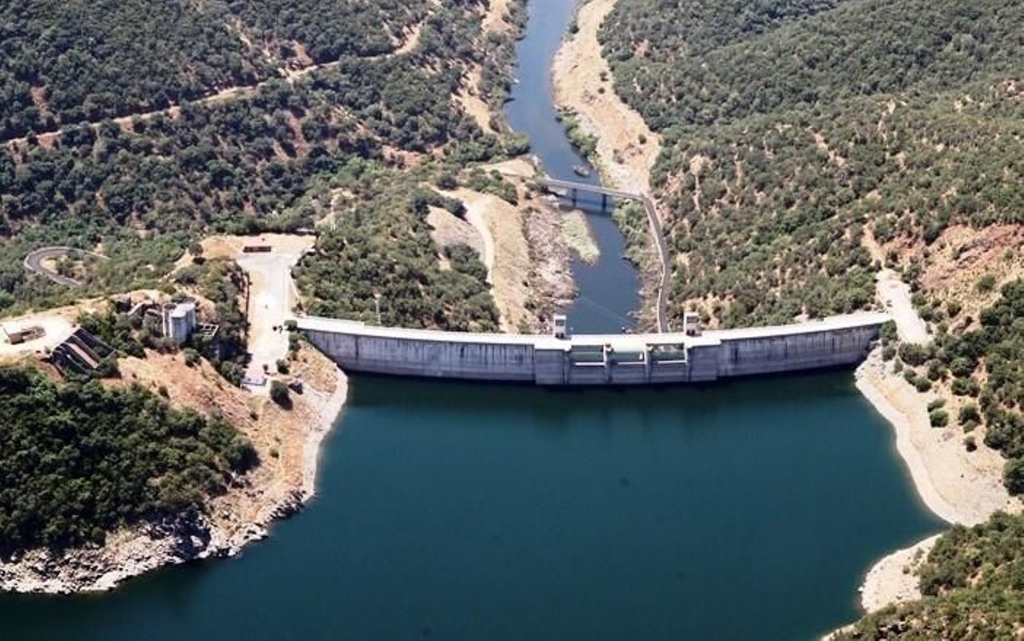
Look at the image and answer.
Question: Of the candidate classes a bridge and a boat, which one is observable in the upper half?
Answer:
bridge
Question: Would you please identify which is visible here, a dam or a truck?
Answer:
dam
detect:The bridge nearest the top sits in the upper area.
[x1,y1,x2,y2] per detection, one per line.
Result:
[535,176,648,209]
